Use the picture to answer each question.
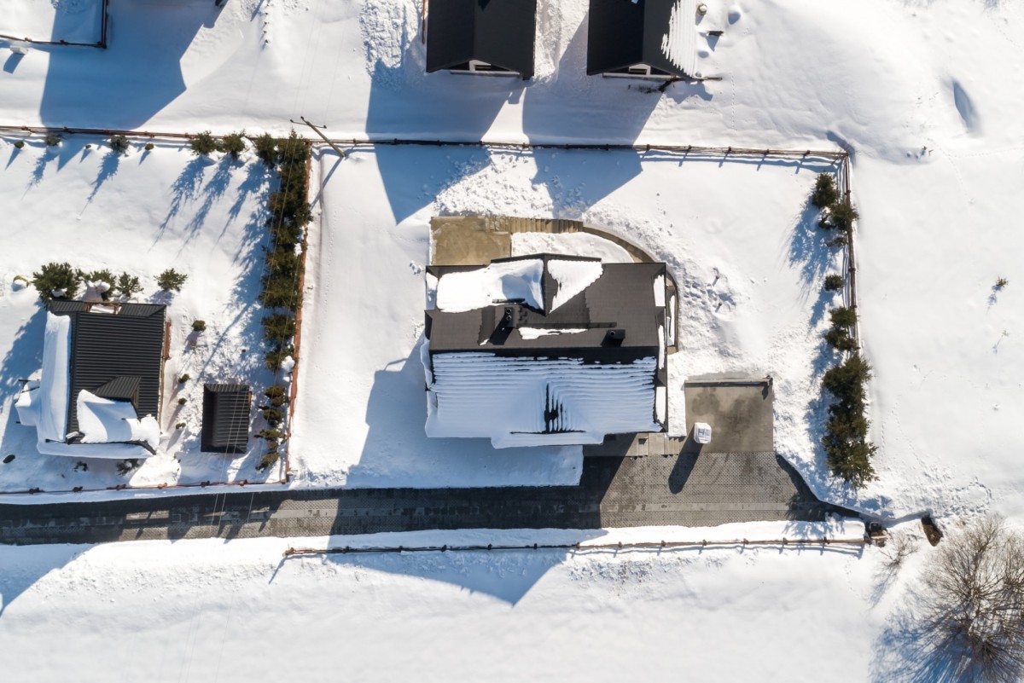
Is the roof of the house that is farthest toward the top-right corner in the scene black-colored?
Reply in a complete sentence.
Yes, the roof of the house that is farthest toward the top-right corner is indeed black.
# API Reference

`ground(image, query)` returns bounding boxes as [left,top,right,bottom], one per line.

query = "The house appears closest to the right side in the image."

[587,0,698,81]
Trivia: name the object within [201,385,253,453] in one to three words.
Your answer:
shed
